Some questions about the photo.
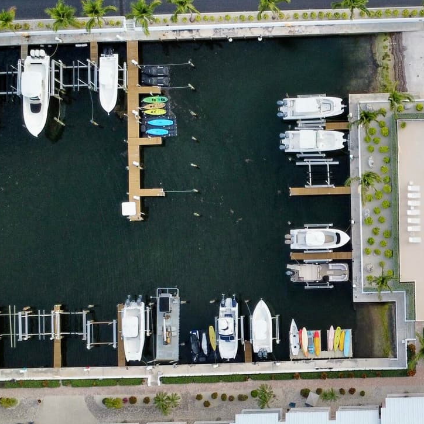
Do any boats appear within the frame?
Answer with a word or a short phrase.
Yes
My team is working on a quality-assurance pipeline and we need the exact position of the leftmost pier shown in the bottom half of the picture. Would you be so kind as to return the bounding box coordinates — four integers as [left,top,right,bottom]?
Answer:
[54,304,66,368]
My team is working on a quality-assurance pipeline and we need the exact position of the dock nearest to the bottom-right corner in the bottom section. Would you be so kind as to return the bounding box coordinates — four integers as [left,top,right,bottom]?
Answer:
[289,328,354,359]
